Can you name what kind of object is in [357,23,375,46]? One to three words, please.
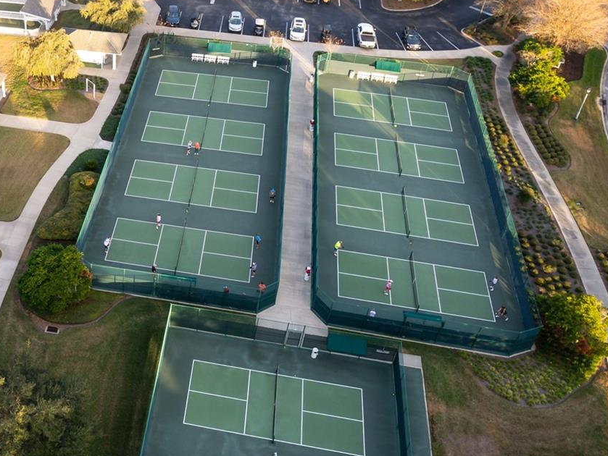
vehicle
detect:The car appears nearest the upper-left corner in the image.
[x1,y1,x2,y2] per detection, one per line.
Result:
[165,5,182,25]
